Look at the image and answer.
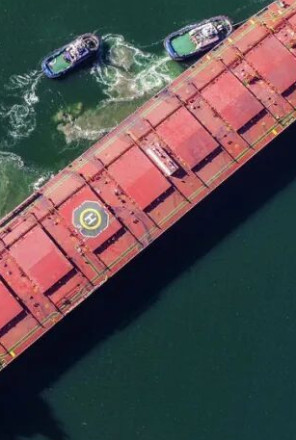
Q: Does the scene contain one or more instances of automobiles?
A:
No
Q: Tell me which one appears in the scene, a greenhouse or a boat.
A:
boat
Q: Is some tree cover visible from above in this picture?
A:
No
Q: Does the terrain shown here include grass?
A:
No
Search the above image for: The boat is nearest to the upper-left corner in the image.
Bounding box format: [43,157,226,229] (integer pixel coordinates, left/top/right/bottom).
[39,34,103,81]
